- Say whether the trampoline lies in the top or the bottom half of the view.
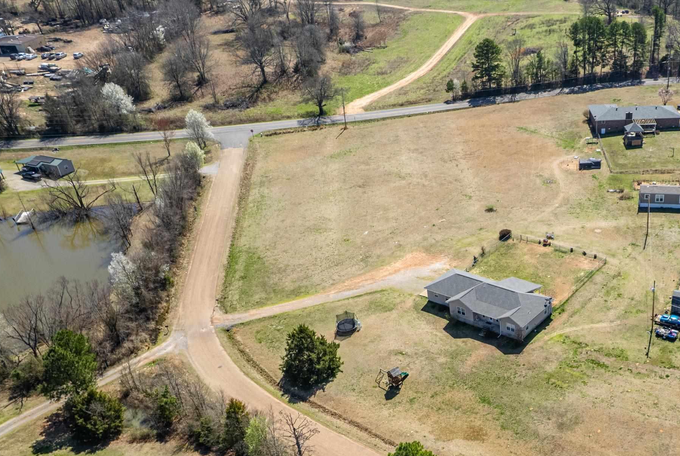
bottom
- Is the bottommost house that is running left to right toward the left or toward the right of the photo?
right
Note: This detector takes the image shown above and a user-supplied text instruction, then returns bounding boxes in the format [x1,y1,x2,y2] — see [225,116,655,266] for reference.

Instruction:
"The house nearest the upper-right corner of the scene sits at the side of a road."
[591,98,680,132]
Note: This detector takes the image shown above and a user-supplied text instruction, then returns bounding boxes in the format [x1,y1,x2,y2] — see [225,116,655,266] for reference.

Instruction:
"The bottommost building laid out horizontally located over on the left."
[5,155,71,180]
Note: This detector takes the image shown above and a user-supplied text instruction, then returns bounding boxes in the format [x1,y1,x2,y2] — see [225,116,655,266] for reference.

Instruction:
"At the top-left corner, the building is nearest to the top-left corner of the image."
[0,28,45,54]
